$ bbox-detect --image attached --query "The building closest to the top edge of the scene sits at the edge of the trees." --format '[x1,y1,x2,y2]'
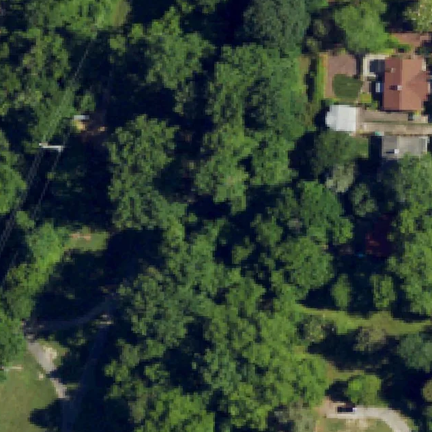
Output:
[384,58,431,110]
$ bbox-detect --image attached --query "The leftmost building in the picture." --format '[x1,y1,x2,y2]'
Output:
[325,105,358,130]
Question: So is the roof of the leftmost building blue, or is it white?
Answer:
white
